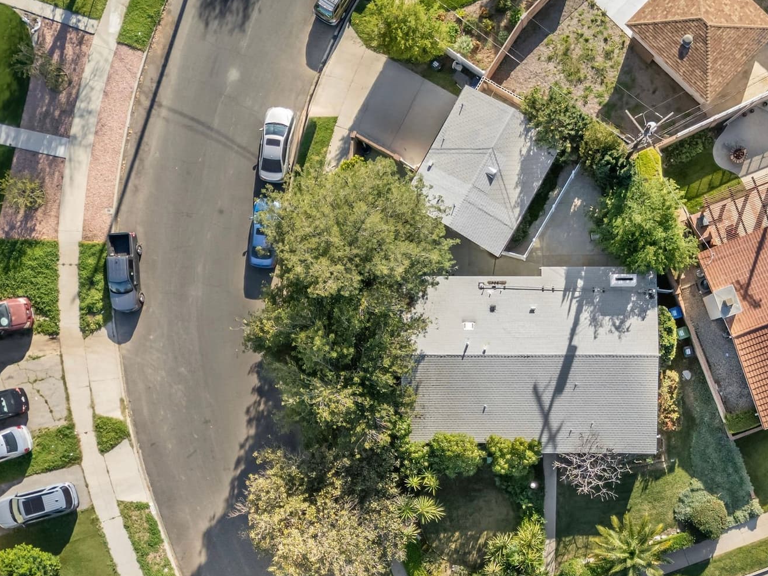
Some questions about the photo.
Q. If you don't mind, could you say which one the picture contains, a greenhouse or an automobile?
automobile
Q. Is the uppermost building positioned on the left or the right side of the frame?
right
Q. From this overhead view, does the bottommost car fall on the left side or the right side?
left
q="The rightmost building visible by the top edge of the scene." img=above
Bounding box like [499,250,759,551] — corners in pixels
[624,0,768,104]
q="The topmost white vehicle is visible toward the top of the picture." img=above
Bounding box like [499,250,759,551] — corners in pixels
[255,107,292,182]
